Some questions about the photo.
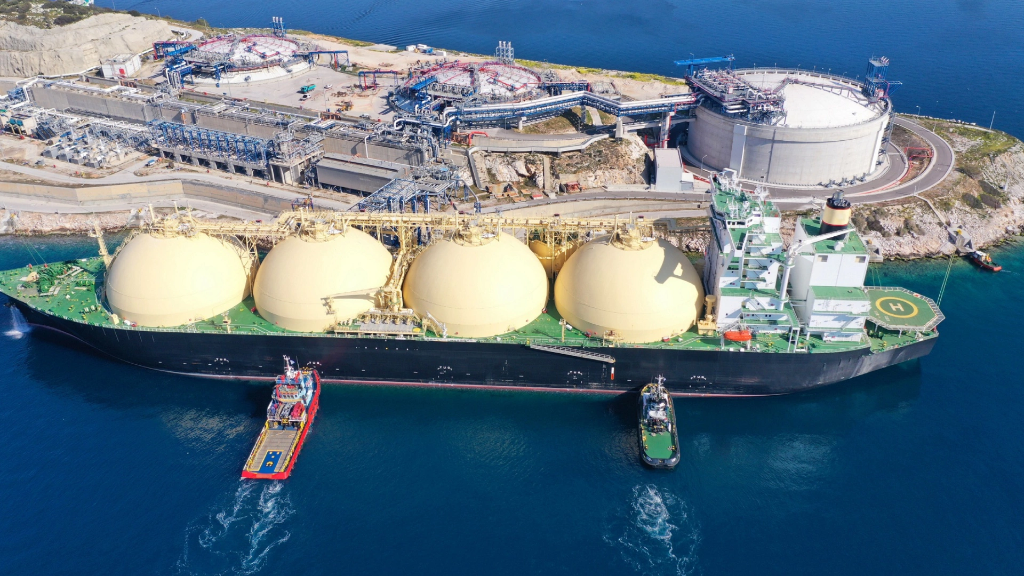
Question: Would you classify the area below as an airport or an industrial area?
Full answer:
What you see here is an industrial area.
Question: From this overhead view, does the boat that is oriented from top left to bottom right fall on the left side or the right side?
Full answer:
The boat that is oriented from top left to bottom right is on the right side of the image.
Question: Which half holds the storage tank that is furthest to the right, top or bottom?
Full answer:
The storage tank that is furthest to the right sits in the top half of the picture.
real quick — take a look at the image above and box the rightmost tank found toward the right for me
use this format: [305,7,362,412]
[680,46,912,186]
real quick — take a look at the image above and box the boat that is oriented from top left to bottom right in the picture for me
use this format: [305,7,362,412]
[971,249,1001,272]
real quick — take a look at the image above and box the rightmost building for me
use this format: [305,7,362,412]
[649,146,697,191]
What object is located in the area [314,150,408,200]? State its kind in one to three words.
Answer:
building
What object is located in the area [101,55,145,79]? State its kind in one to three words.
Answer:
building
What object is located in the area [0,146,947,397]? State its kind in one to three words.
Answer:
ship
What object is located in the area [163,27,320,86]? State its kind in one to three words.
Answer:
storage tank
